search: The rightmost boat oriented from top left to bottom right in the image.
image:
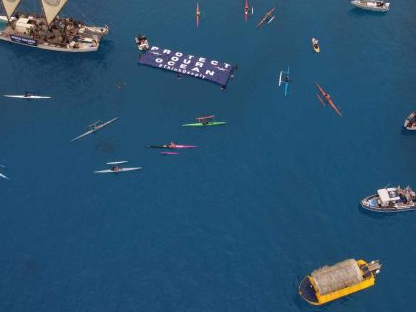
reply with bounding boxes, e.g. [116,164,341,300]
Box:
[315,81,342,116]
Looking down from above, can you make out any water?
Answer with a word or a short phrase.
Yes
